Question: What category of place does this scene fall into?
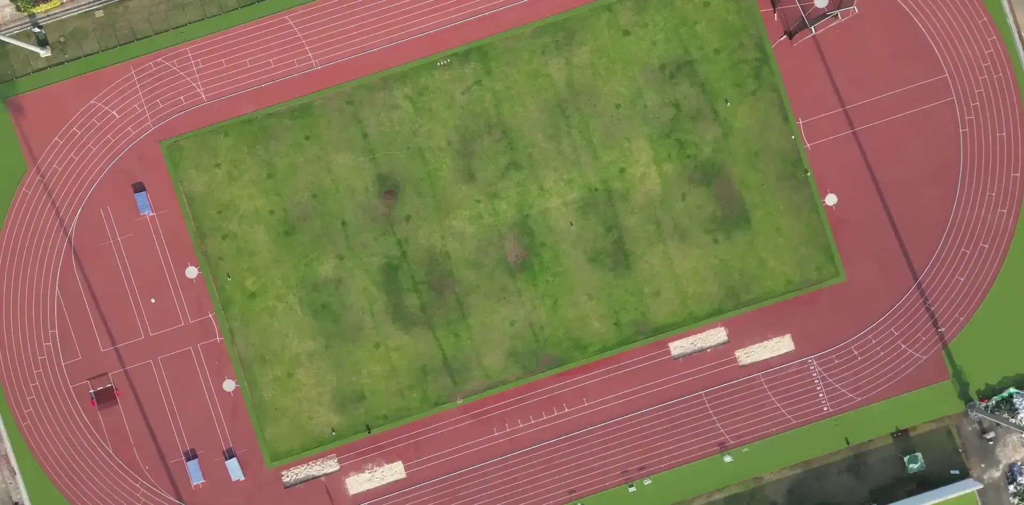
sports ground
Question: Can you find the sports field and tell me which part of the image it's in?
center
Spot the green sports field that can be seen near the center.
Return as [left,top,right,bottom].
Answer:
[159,0,847,469]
